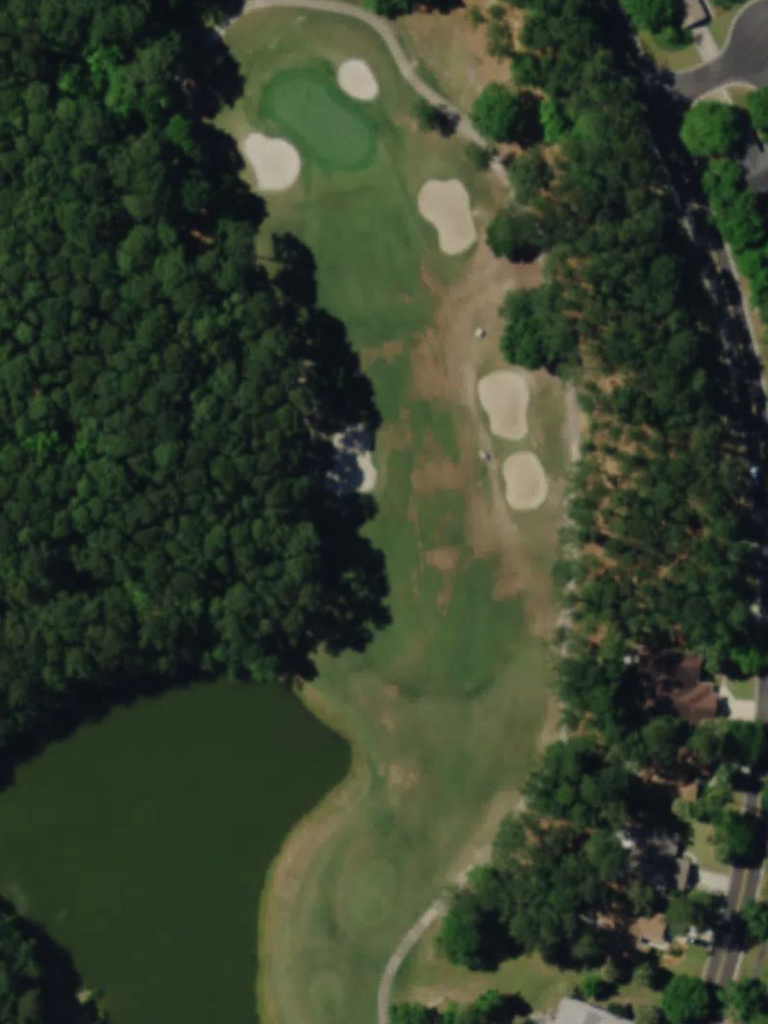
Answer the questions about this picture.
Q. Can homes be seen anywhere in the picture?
Yes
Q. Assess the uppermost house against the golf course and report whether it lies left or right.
to its right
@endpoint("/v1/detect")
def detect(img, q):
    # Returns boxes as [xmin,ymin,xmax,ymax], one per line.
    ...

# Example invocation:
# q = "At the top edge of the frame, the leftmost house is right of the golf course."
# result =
[672,0,708,29]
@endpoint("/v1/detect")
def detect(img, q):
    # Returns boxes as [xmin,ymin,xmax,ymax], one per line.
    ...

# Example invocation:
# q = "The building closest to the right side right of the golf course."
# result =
[737,148,768,197]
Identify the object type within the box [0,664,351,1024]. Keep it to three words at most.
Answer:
pond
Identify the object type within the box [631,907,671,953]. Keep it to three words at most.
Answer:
house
